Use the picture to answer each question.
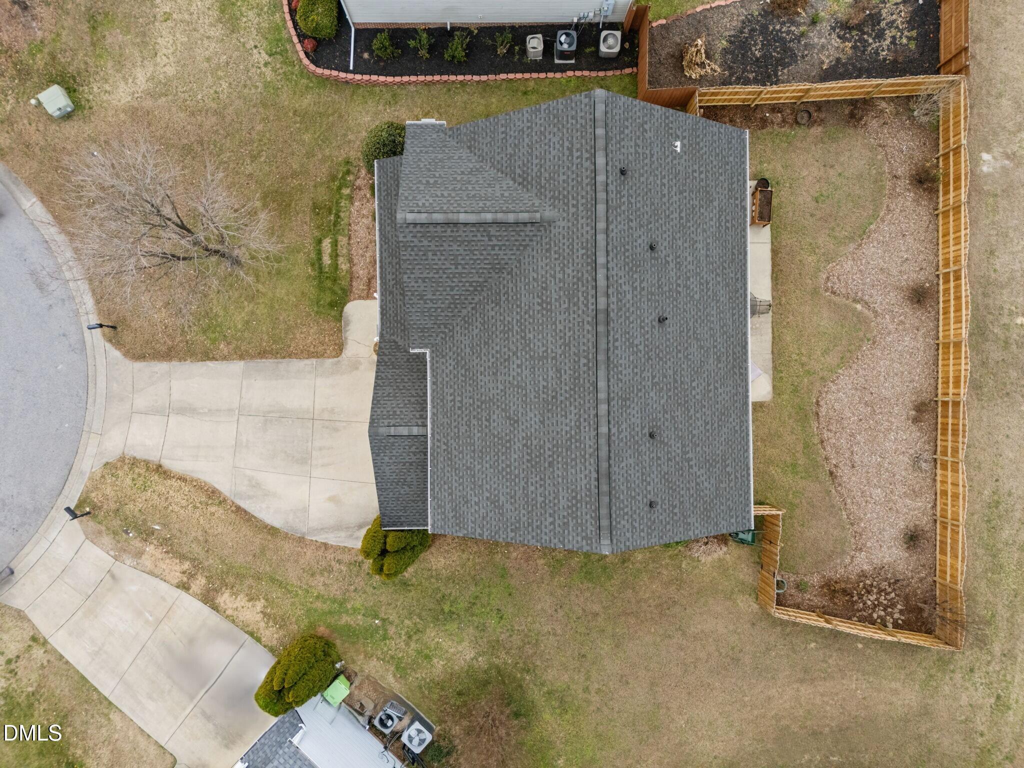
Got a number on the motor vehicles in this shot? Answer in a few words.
0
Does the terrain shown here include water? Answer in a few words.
No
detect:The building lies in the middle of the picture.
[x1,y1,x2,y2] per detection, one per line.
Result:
[368,90,754,555]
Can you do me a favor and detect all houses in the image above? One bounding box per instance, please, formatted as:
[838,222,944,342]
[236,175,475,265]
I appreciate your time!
[339,0,634,68]
[368,90,754,555]
[227,692,408,768]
